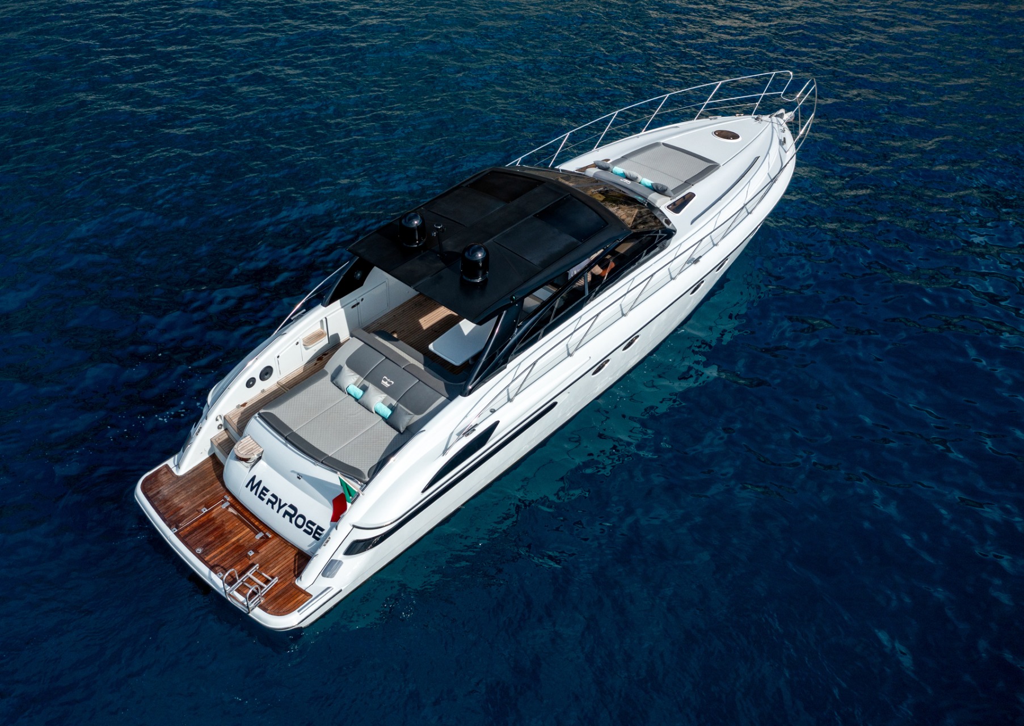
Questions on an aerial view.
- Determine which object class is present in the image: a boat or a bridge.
boat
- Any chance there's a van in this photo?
No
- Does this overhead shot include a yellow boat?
No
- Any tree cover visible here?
No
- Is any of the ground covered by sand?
No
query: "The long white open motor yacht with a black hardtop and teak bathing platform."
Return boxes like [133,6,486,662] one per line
[134,71,817,632]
